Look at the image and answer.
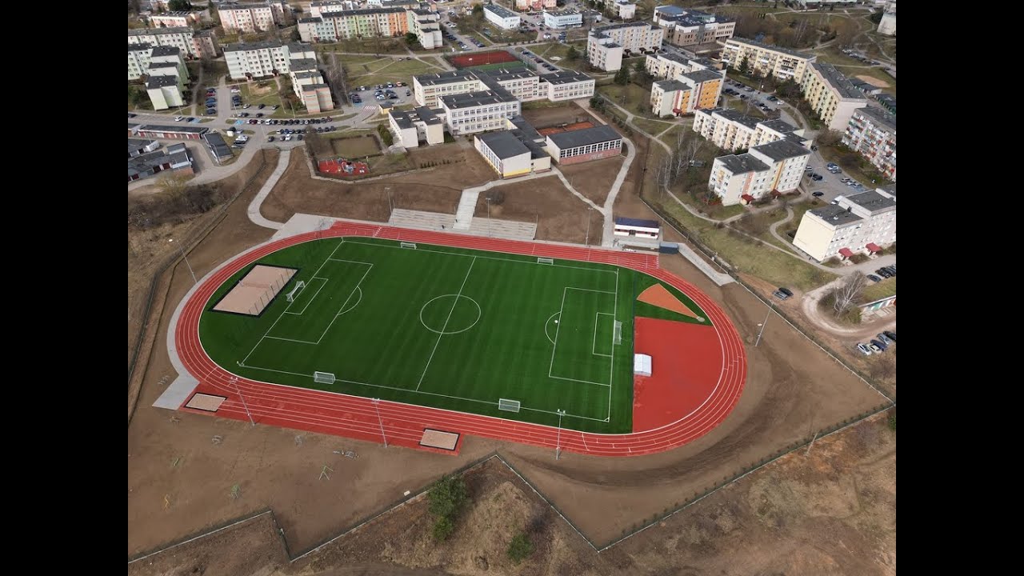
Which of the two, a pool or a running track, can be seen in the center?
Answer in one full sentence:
Looking in the center, you will find a running track.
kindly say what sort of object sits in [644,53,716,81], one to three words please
building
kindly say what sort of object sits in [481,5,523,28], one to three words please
building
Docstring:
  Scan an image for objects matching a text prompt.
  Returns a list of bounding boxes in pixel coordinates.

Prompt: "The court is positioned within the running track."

[210,264,299,318]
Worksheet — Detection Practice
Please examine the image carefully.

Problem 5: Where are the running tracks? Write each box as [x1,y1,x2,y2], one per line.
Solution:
[176,227,746,455]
